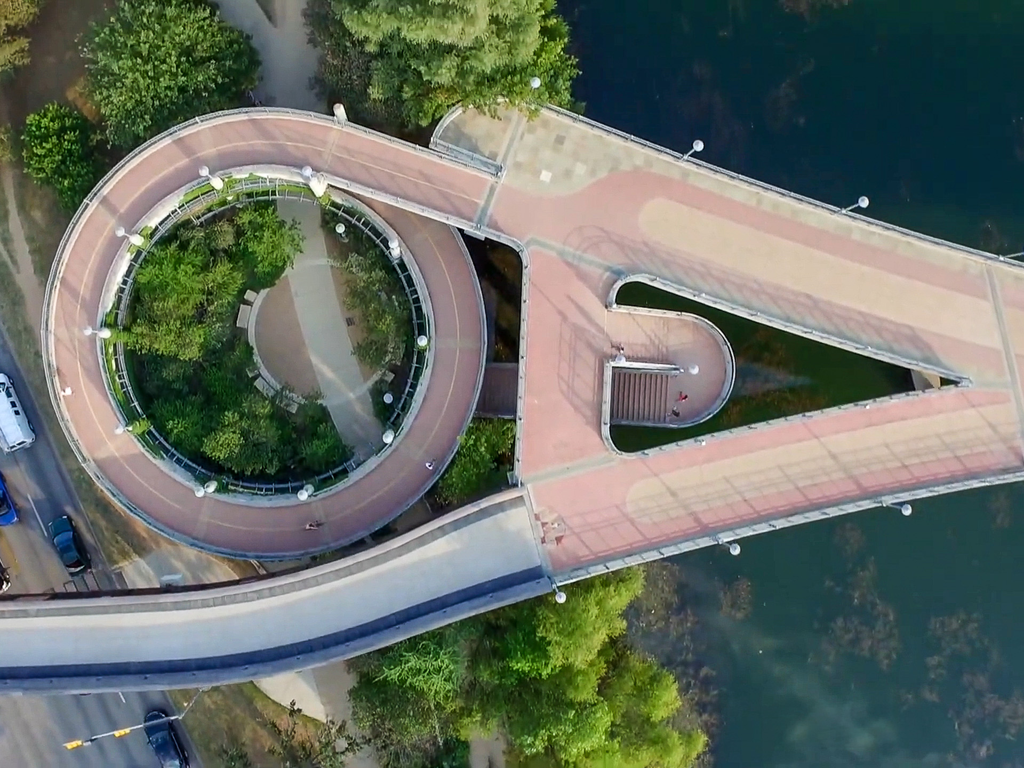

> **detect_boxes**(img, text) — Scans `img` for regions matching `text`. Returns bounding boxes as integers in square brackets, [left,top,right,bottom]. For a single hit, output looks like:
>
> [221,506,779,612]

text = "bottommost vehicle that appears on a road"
[147,711,195,768]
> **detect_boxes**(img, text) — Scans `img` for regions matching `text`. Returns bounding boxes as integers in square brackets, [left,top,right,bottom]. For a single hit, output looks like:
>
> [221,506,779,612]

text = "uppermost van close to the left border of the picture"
[0,375,41,454]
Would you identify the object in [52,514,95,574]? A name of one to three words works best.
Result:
car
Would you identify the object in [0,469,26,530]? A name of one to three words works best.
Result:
car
